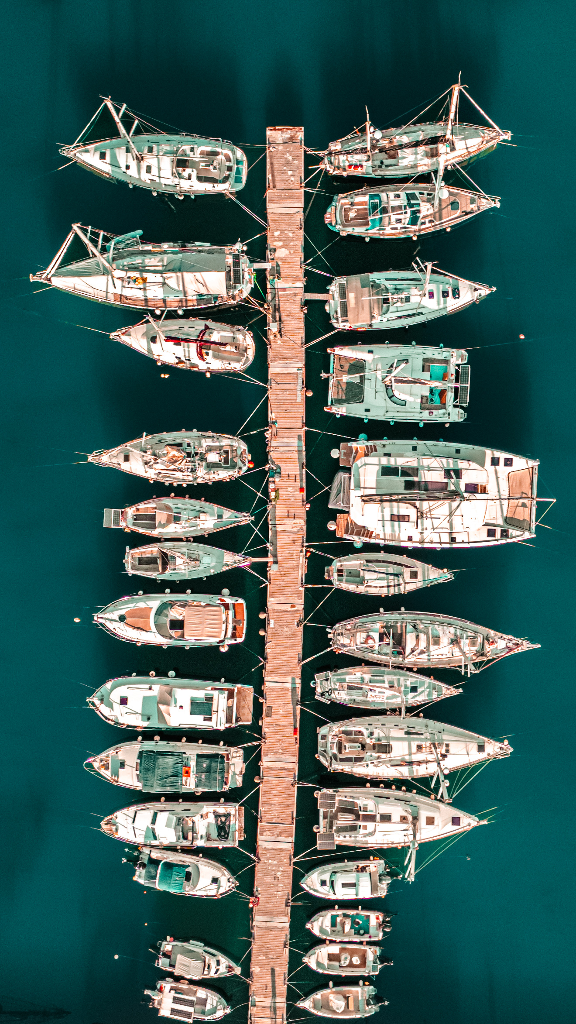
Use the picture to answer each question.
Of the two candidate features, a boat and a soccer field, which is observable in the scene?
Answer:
boat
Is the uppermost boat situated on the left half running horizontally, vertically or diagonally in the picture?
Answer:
horizontally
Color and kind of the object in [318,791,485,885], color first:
white boat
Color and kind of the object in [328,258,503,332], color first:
white boat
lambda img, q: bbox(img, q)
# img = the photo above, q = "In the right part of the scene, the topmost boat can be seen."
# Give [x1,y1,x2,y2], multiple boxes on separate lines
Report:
[307,75,517,182]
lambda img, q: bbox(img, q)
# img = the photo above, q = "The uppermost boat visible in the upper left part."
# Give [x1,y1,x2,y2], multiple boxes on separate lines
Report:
[54,96,248,191]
